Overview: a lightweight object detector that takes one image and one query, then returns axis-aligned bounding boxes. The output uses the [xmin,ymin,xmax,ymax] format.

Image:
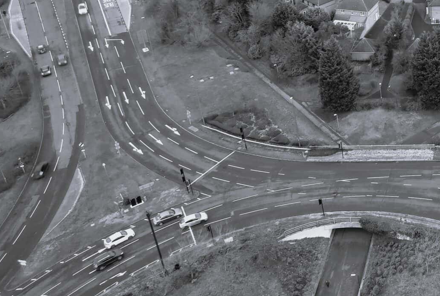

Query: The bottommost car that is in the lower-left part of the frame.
[89,249,126,272]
